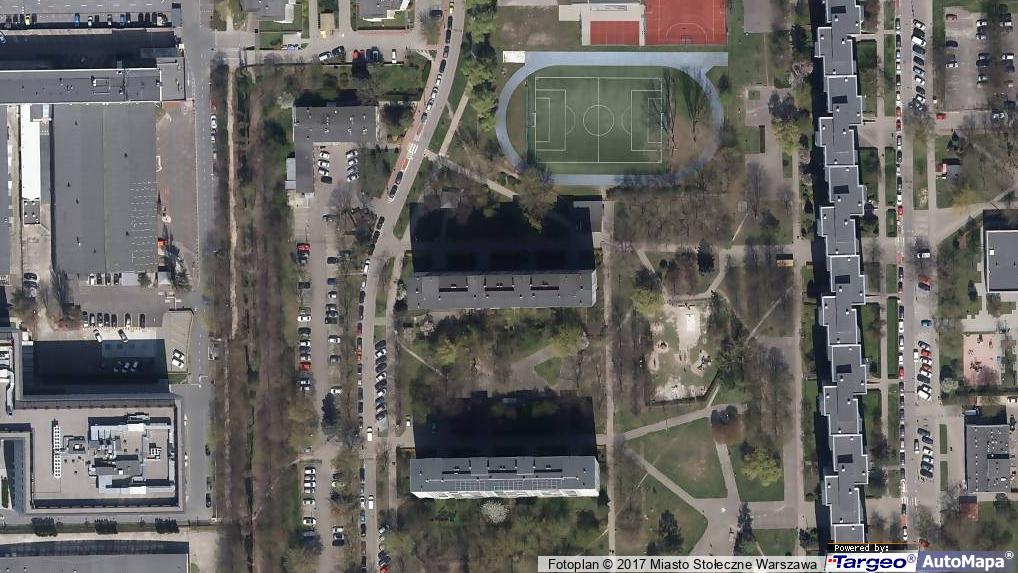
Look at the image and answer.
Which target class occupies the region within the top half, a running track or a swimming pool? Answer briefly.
running track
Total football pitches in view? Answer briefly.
1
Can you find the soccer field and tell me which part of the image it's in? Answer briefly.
top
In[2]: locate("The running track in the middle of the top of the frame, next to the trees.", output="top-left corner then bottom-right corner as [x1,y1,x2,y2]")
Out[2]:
[497,52,728,186]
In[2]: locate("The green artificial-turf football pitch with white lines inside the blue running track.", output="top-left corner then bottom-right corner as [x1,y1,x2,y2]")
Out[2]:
[527,66,667,173]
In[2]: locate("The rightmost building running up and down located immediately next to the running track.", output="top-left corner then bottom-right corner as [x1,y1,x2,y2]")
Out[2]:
[815,0,874,573]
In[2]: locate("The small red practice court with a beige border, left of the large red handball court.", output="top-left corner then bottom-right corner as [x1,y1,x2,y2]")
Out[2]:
[560,4,645,46]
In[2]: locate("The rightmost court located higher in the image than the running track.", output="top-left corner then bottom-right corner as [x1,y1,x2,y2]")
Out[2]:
[645,0,727,45]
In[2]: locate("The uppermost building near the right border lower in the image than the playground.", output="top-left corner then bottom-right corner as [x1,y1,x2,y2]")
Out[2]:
[967,426,1010,494]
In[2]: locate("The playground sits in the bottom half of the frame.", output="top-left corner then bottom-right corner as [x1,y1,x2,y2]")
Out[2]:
[963,333,1002,387]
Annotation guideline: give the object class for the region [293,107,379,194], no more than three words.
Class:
building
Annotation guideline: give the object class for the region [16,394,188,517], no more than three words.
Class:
building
